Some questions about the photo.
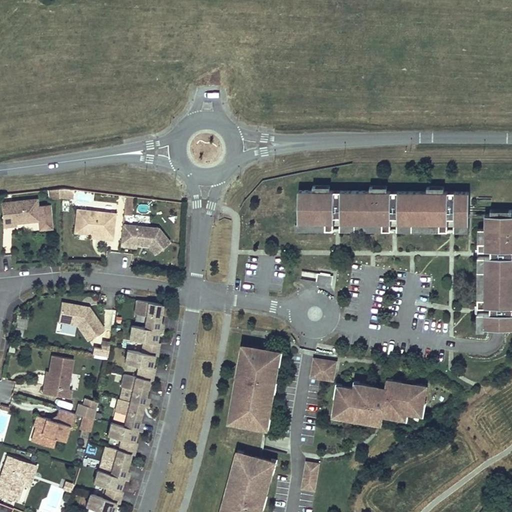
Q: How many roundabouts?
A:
2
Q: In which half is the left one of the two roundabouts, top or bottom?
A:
top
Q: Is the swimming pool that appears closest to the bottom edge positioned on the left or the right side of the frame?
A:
left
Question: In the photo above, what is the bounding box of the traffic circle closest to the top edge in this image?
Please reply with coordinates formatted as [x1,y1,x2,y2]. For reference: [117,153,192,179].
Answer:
[169,111,244,186]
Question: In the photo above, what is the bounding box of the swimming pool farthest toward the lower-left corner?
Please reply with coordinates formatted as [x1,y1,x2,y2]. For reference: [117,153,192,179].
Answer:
[38,484,64,512]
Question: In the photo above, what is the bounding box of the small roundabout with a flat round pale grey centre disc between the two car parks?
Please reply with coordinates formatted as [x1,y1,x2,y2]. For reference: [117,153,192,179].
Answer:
[290,288,340,338]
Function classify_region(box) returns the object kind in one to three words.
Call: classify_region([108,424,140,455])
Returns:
house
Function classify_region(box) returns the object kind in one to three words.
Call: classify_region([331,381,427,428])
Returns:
building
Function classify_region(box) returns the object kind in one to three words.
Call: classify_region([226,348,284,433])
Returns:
building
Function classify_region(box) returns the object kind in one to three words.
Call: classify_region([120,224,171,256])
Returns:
house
